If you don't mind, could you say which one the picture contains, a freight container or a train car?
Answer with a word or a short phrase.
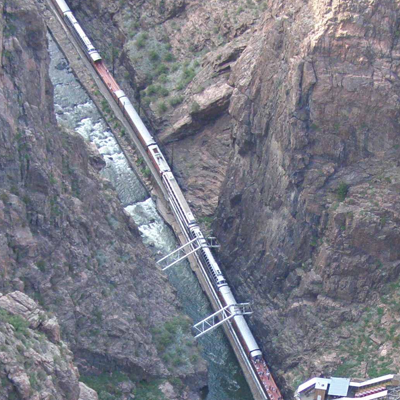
train car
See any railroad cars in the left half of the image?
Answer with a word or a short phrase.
Yes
